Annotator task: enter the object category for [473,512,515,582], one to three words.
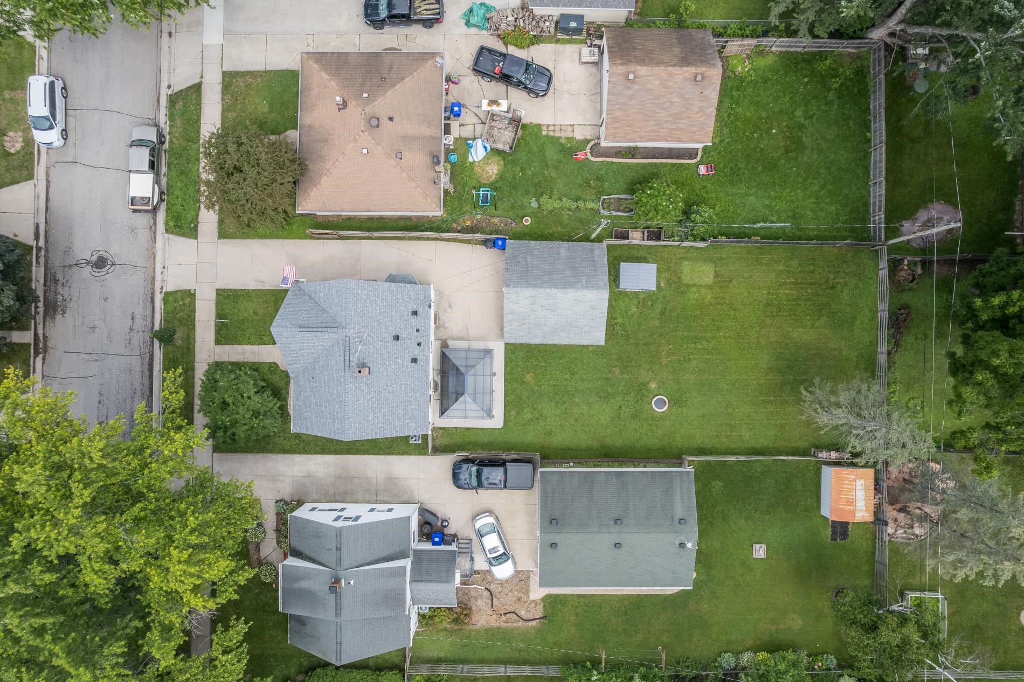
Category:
car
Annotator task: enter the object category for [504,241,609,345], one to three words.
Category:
building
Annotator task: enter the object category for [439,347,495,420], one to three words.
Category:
gazebo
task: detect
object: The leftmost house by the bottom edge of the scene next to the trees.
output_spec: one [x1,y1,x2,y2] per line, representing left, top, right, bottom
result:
[277,507,460,669]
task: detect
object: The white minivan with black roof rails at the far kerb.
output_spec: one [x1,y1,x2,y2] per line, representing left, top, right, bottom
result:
[26,76,67,149]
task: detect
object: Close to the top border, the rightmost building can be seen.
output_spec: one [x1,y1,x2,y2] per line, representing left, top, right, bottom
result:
[600,28,722,148]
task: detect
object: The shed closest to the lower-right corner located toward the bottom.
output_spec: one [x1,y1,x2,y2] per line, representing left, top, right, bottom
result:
[821,465,874,522]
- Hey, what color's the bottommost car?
white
